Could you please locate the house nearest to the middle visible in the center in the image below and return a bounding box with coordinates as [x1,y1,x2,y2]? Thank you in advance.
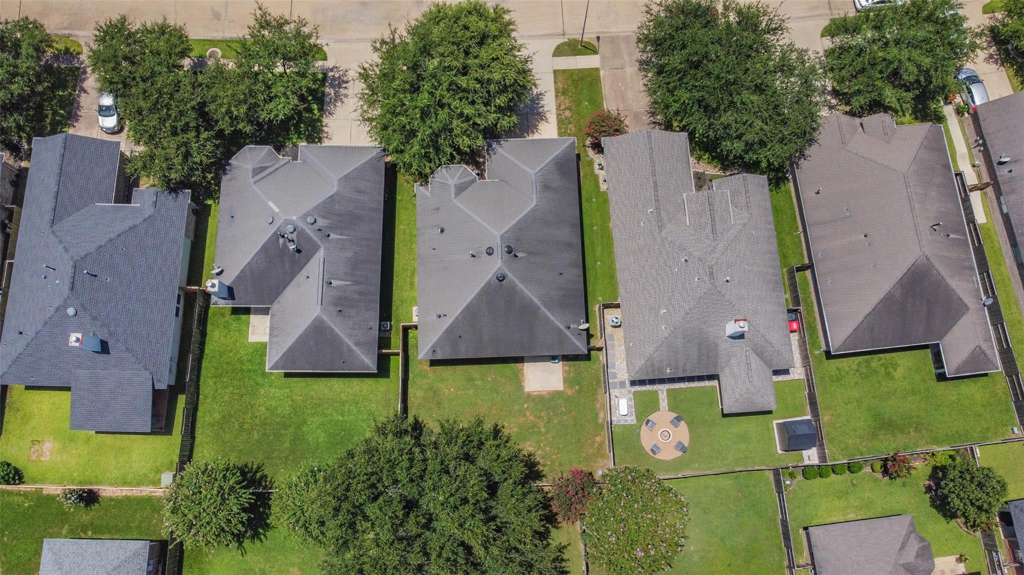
[415,137,588,360]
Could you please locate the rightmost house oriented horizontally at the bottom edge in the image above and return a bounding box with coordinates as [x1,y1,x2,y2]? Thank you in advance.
[797,513,935,575]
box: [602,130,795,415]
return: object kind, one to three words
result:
house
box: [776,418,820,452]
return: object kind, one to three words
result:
shed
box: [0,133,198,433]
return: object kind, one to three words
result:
house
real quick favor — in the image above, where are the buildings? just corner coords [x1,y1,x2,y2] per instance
[797,513,935,575]
[784,113,1001,378]
[0,152,24,299]
[39,537,163,575]
[958,89,1024,276]
[210,144,387,374]
[602,130,795,415]
[415,137,588,360]
[0,133,198,433]
[776,418,820,452]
